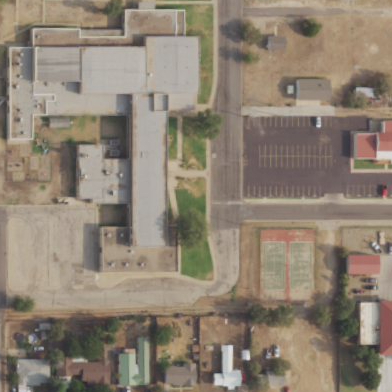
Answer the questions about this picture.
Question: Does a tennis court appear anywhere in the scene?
Yes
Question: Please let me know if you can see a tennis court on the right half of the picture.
Yes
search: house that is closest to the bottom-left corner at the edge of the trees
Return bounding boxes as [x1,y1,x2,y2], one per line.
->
[16,359,50,392]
